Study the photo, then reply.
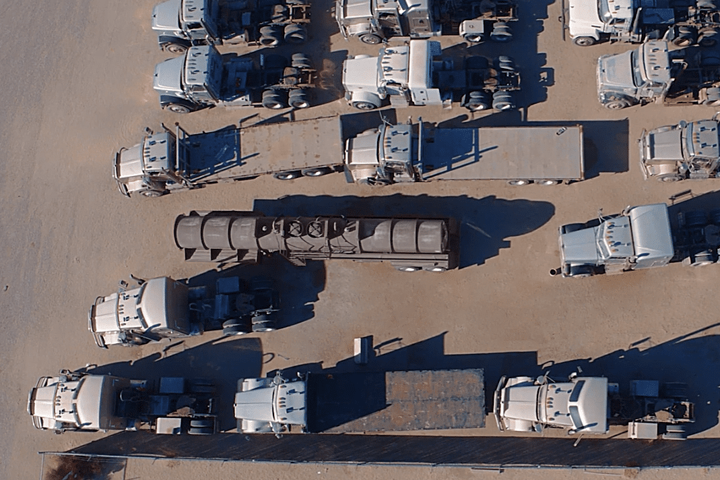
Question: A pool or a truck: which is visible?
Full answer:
It is a truck that can be seen here.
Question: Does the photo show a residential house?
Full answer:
No, I find no residential house anywhere in the image.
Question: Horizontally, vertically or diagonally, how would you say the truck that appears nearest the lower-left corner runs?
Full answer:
In this picture, the truck that appears nearest the lower-left corner lies horizontally.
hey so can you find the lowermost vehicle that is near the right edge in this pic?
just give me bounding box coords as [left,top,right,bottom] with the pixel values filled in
[492,366,698,442]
